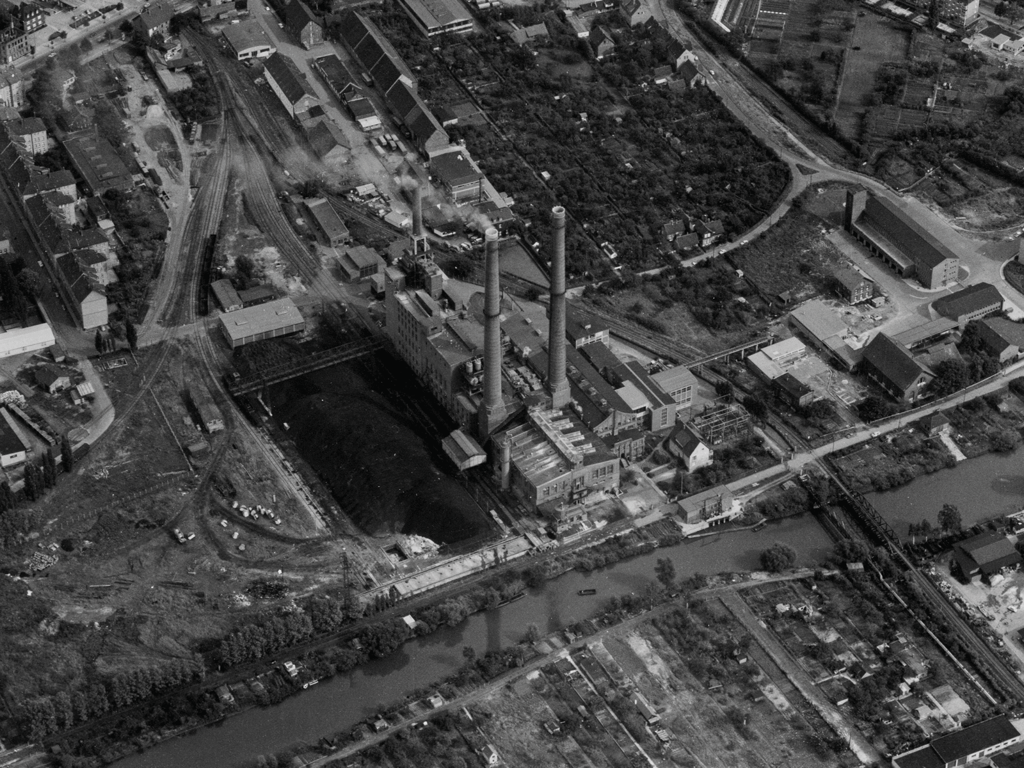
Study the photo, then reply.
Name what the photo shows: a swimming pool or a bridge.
bridge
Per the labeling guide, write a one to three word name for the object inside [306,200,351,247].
shed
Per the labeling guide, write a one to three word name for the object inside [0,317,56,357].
house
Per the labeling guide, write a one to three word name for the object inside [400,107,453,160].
building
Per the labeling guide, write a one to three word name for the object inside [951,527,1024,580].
barn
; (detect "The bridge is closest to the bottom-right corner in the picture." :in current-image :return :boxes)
[825,474,922,577]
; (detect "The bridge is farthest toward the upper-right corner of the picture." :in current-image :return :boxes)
[684,336,773,373]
